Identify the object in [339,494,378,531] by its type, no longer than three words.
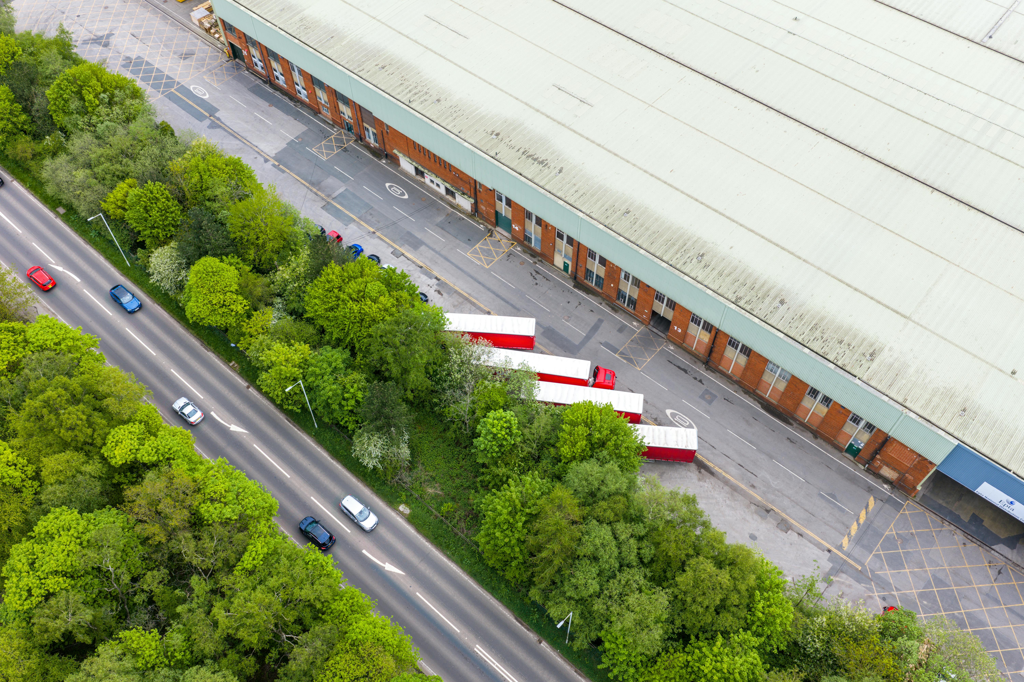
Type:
car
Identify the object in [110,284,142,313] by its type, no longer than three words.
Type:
car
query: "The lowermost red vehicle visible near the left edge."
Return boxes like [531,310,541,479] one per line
[29,268,56,292]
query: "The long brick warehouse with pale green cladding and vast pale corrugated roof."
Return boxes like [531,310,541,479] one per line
[211,0,1024,567]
